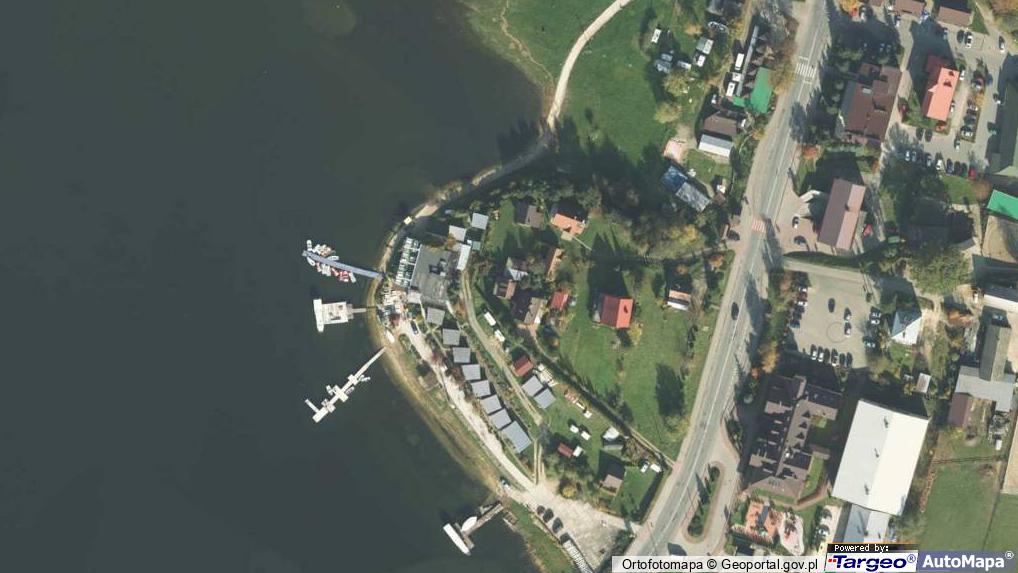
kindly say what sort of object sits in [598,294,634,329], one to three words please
house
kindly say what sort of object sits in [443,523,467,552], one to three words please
boat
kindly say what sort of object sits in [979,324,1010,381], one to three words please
barn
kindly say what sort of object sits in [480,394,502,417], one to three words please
building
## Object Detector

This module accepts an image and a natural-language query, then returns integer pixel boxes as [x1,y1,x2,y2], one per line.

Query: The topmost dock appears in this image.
[301,250,384,279]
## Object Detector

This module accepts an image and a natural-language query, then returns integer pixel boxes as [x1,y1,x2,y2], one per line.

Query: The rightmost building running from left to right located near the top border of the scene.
[937,5,972,26]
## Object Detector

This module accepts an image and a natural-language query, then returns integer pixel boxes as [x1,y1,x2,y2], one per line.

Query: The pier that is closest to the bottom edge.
[453,502,505,549]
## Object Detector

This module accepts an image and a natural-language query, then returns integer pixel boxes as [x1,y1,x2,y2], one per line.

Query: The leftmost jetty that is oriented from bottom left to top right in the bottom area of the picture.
[307,351,383,423]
